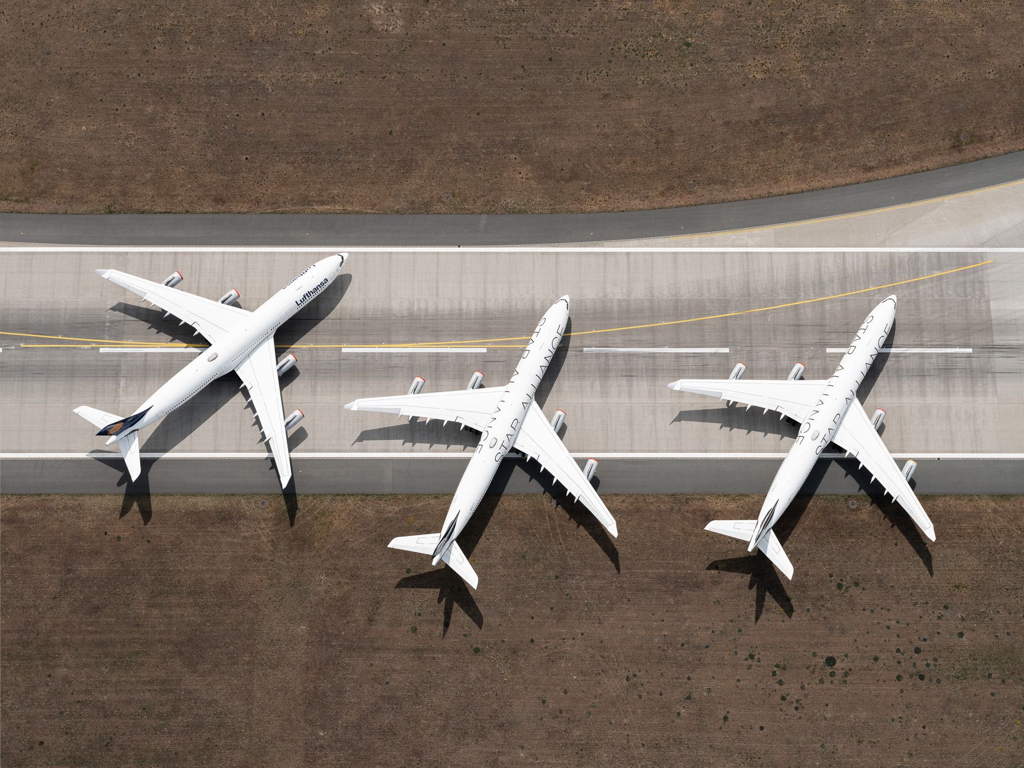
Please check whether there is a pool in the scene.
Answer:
No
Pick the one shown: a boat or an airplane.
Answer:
airplane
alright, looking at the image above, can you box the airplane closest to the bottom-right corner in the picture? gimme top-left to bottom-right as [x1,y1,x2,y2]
[667,294,935,579]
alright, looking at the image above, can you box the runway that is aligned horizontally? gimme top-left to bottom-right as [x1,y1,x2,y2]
[0,247,1024,459]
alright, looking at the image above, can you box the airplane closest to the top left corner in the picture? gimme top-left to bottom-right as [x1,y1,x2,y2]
[73,251,349,489]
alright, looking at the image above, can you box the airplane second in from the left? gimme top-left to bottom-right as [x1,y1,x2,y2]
[342,294,617,589]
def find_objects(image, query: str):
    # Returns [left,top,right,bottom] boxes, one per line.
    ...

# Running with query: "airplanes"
[73,251,349,489]
[667,294,935,579]
[342,294,617,589]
